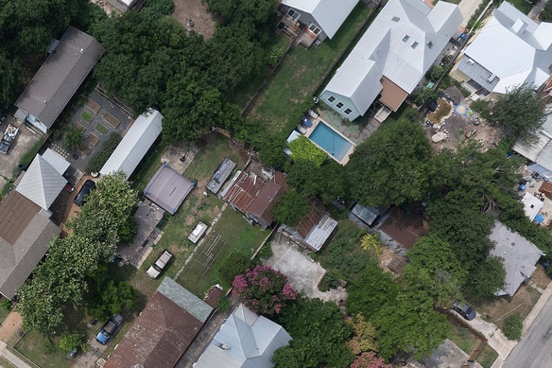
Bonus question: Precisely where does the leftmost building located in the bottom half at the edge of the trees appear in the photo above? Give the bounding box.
[0,147,70,300]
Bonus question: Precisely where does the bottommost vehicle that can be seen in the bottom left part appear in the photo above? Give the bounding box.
[95,310,125,347]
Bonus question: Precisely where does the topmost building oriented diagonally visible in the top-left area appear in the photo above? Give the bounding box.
[13,27,103,134]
